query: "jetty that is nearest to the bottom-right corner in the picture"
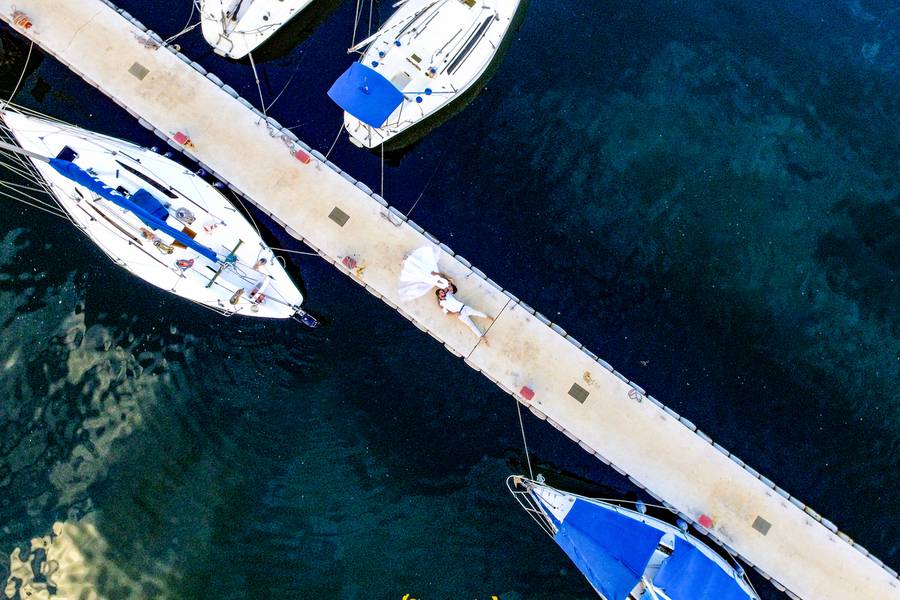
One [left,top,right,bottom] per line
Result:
[468,298,900,600]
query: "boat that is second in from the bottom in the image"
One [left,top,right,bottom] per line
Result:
[0,107,317,327]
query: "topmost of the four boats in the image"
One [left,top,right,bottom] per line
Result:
[200,0,315,60]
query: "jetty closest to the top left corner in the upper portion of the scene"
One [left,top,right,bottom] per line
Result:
[0,0,512,359]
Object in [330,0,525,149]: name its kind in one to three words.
boat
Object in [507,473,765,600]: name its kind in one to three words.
boat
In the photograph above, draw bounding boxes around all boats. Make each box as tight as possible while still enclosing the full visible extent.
[200,0,315,60]
[330,0,525,149]
[507,473,765,600]
[0,107,317,327]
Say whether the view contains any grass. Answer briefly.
No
